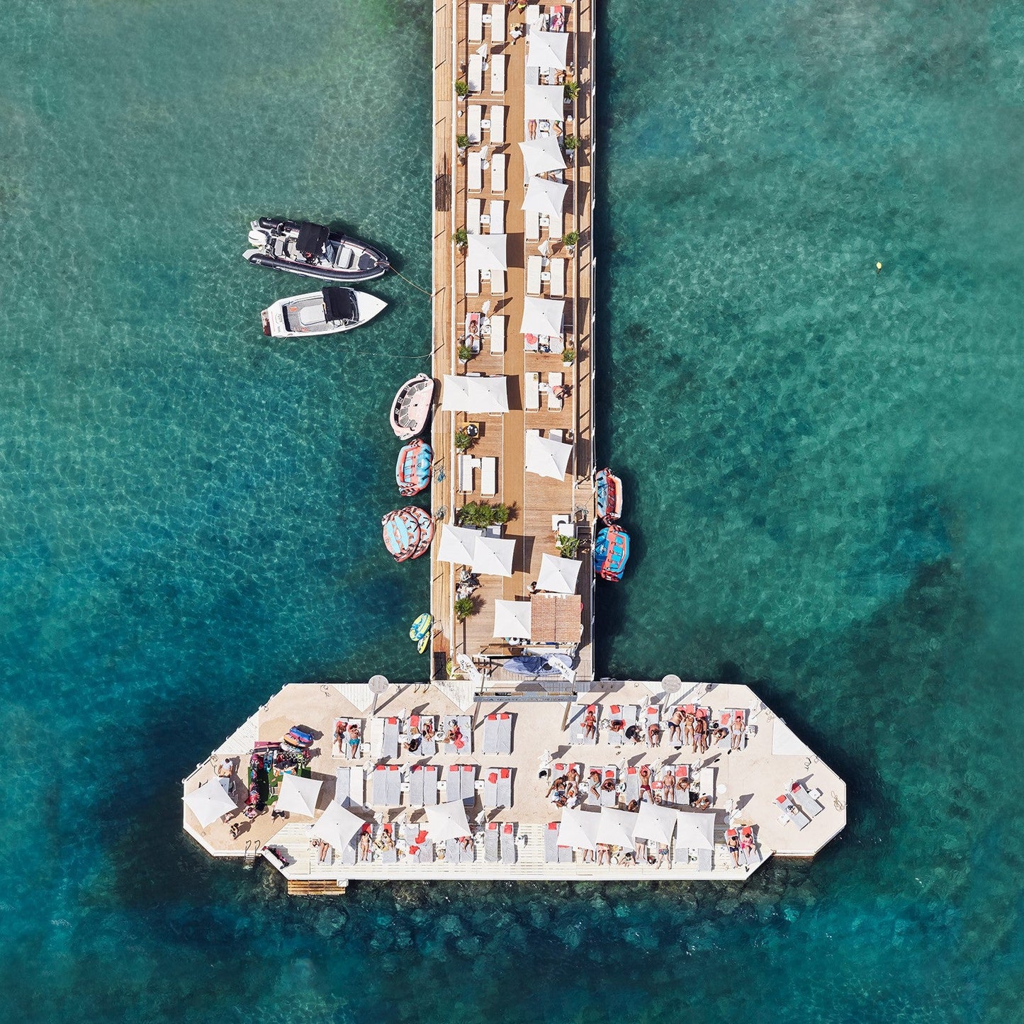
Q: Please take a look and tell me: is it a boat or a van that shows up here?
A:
boat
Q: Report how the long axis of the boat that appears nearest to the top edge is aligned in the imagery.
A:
from side to side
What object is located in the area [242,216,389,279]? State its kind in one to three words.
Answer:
boat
